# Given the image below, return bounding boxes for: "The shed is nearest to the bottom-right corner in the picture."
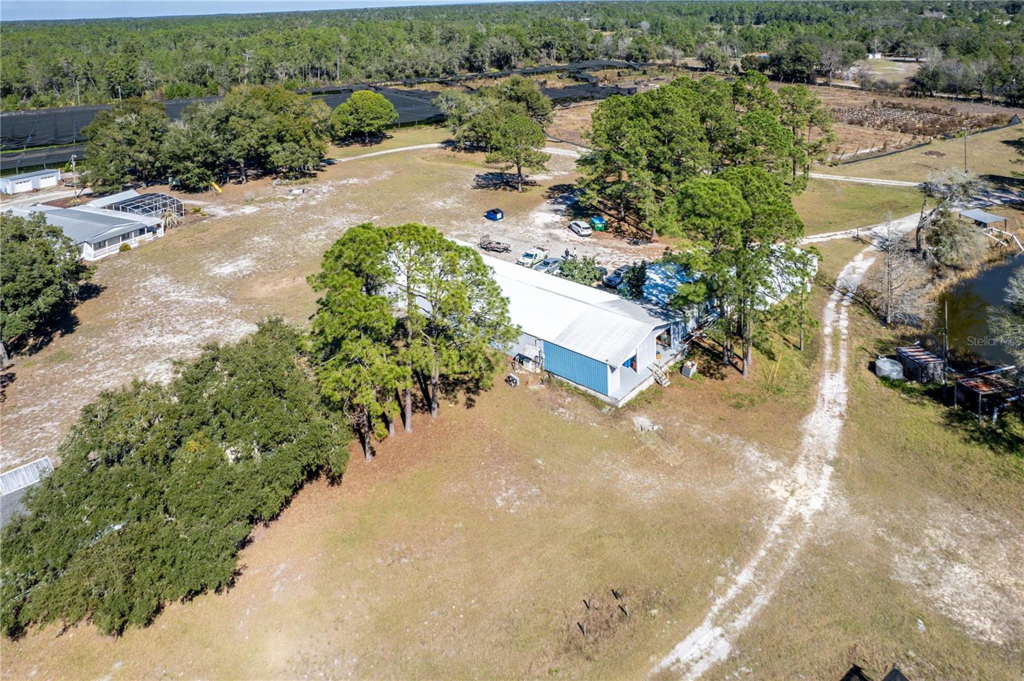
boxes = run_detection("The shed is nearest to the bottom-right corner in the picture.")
[893,342,948,383]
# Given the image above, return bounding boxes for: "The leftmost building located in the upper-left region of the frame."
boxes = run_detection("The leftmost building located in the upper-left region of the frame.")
[0,164,60,194]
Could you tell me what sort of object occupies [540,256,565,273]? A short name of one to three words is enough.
car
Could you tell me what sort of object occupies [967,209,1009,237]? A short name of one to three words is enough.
building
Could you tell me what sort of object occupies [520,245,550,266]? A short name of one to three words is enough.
truck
